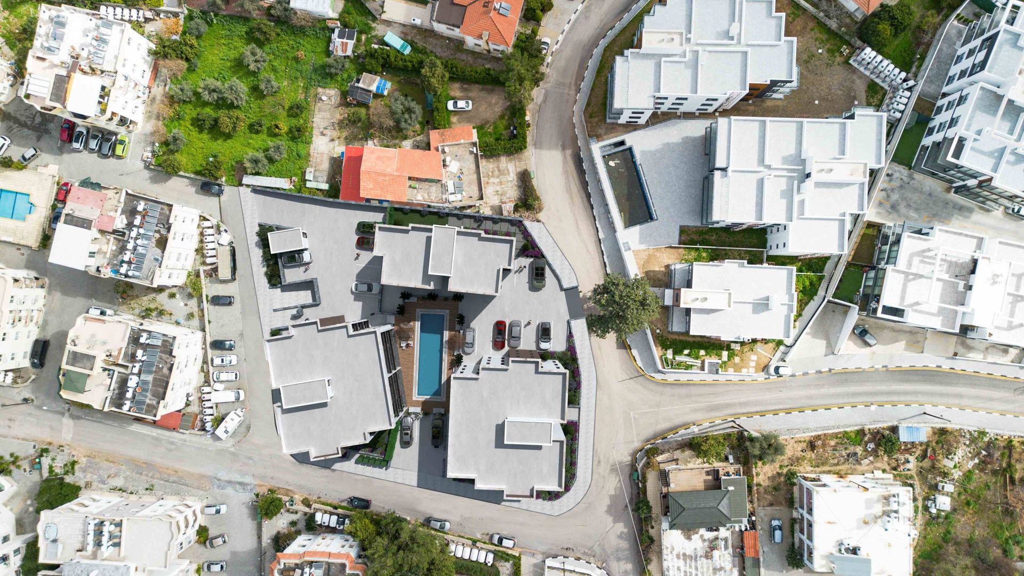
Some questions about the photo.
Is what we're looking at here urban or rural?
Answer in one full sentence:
The area is urban.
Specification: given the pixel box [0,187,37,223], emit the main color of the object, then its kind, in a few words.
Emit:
blue swimming pool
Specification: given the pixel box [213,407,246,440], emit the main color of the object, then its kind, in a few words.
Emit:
white camper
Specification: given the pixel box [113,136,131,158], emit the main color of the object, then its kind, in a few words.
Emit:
green car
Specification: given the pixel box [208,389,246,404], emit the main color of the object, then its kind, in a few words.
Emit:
white vehicle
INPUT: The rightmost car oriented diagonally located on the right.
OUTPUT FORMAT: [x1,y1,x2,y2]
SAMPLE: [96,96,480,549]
[852,324,879,349]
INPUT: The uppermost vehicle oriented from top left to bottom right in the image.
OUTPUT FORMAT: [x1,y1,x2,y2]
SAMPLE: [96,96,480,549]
[381,28,412,55]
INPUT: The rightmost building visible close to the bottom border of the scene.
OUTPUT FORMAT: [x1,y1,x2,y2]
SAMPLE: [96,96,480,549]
[795,468,914,576]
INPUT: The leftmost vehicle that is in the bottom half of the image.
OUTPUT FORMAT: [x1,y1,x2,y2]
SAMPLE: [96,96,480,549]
[28,337,53,370]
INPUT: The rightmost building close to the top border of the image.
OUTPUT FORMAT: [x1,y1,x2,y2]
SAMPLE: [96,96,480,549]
[901,0,1024,214]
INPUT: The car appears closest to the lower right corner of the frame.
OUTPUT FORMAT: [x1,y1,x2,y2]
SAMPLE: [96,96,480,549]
[769,518,783,543]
